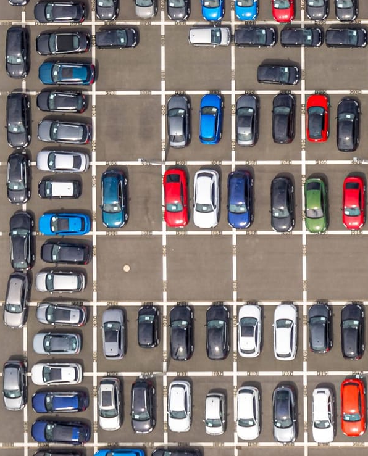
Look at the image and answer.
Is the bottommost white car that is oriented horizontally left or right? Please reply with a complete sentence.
It is on the left.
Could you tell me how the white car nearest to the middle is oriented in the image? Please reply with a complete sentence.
The white car nearest to the middle is oriented vertically.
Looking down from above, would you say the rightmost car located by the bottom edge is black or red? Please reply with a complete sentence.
In this view, the rightmost car located by the bottom edge is red.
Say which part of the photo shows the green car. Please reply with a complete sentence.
The green car is in the right part of the image.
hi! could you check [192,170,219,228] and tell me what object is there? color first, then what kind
white car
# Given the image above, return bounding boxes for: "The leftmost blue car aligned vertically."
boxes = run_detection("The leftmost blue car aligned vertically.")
[101,170,128,228]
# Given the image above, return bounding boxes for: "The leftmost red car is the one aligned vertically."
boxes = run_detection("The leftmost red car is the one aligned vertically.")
[162,169,189,228]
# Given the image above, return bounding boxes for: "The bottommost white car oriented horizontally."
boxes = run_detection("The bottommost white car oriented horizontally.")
[32,362,82,387]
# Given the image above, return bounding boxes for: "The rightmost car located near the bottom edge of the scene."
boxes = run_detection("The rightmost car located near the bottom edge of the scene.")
[339,377,366,436]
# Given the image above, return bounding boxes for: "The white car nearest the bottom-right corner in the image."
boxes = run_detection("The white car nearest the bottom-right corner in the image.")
[309,387,336,442]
